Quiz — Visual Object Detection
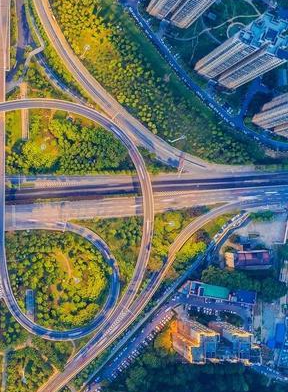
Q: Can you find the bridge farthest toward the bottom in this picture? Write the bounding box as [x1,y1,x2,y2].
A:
[66,219,237,392]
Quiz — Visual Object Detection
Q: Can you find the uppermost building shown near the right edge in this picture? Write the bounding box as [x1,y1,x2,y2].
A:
[191,13,288,88]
